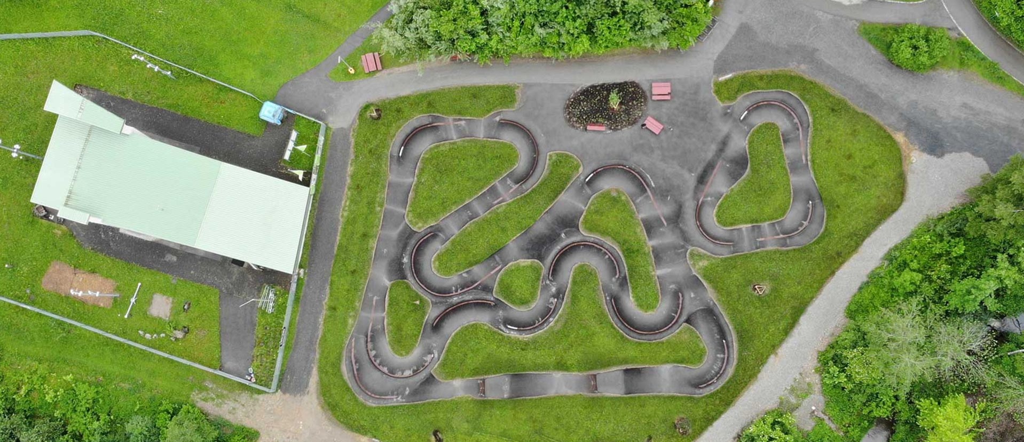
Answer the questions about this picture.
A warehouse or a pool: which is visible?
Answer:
warehouse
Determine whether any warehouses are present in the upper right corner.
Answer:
No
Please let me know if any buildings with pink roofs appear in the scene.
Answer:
No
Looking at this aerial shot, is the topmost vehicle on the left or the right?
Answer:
left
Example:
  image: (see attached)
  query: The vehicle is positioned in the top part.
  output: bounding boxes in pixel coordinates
[258,100,291,127]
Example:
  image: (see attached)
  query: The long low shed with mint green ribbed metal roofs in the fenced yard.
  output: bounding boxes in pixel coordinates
[30,79,314,274]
